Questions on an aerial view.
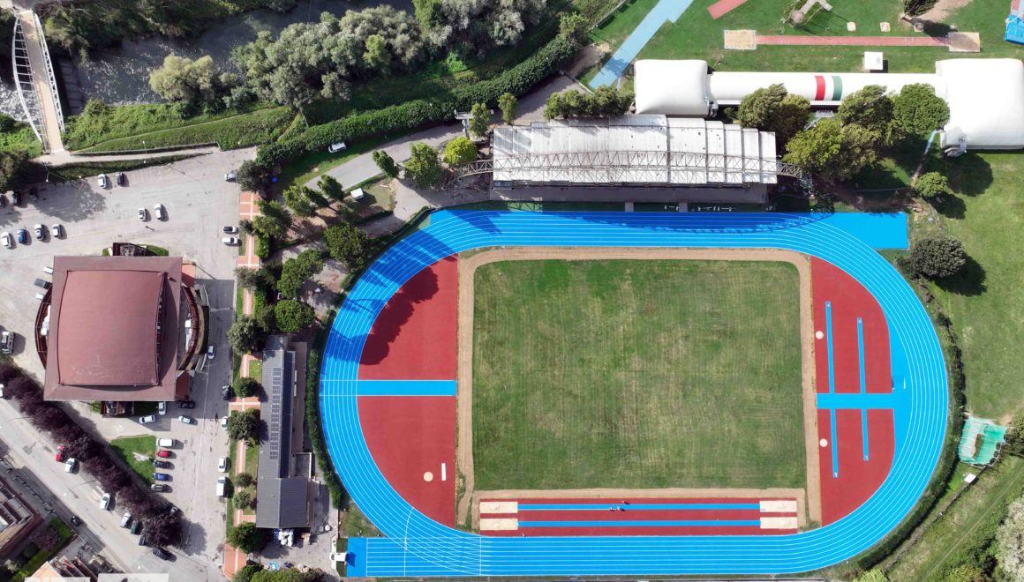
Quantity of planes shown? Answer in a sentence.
There are no planes in this view.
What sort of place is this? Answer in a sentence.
It's a sports ground.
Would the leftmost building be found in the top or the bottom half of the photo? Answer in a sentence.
Seen from above, the leftmost building lies in the bottom half of the view.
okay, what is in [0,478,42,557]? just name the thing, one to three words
building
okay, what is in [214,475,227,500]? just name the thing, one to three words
vehicle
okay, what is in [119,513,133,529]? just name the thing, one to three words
car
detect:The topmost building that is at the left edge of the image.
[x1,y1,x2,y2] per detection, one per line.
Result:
[34,243,212,415]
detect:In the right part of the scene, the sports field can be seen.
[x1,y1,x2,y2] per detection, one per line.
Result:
[473,259,806,491]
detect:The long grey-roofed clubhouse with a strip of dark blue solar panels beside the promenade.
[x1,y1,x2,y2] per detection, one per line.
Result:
[256,336,315,528]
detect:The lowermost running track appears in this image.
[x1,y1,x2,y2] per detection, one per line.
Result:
[319,209,951,579]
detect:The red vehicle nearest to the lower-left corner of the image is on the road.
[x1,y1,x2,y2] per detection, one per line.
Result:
[54,445,66,462]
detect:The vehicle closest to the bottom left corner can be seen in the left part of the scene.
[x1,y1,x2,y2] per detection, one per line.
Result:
[69,515,83,528]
